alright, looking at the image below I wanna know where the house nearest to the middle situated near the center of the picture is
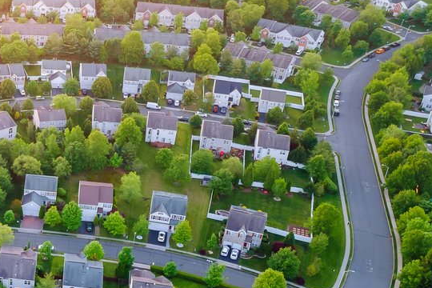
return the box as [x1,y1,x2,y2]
[199,121,235,151]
